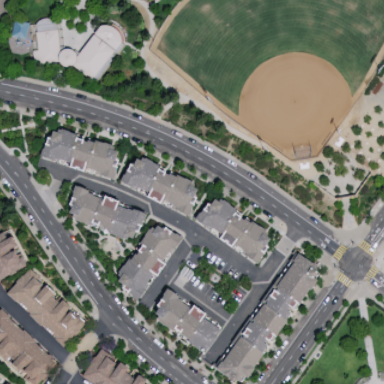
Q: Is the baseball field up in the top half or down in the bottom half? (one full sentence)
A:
It is in the top half that the baseball field appears.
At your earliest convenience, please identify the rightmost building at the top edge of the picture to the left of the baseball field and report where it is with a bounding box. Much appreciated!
[34,18,126,78]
